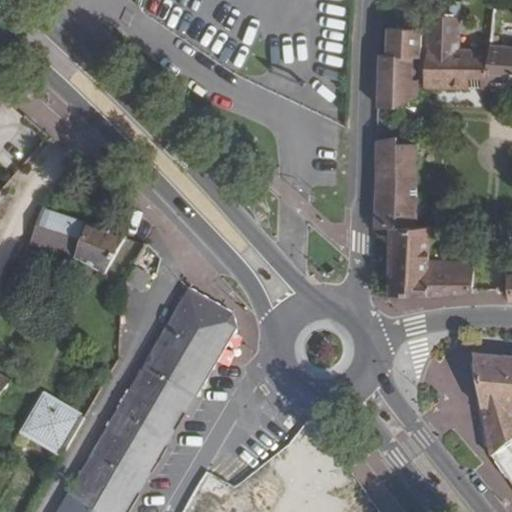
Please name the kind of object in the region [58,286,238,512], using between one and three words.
building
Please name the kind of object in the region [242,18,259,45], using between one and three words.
vehicle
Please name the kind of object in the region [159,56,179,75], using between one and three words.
car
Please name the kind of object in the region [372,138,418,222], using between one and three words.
house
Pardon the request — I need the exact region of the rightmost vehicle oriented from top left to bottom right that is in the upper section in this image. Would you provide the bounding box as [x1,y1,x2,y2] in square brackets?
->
[312,80,336,102]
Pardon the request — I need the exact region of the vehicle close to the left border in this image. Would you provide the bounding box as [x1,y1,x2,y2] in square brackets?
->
[2,140,22,158]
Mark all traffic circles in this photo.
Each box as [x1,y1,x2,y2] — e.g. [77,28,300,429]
[294,319,354,379]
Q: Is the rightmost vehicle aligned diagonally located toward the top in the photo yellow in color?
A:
No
